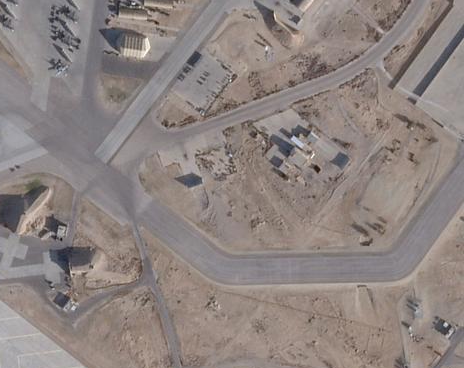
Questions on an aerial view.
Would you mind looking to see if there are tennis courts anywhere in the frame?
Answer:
No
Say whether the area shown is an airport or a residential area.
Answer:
airport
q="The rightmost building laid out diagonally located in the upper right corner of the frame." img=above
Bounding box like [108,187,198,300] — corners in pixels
[395,0,464,96]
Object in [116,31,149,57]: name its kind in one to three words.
hangar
